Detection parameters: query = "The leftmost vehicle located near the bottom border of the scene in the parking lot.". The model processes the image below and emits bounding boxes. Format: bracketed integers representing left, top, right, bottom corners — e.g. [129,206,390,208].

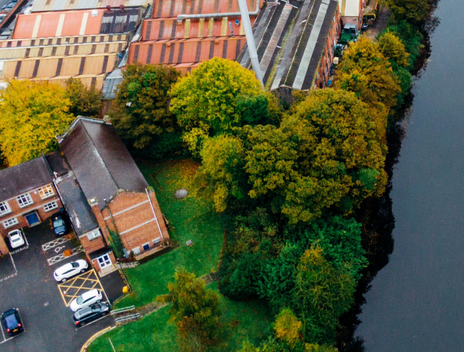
[3,307,23,334]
